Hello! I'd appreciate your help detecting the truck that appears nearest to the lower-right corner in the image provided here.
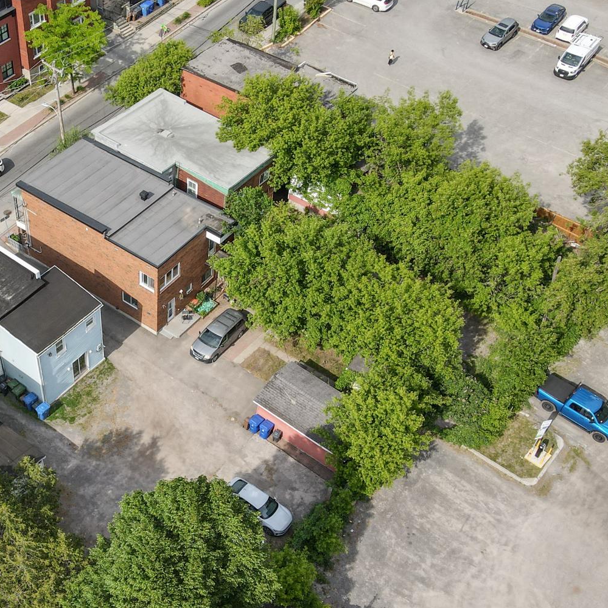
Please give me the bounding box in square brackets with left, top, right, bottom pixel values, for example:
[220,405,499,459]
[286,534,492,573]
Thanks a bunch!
[530,371,608,440]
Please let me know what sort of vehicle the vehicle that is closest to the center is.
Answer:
car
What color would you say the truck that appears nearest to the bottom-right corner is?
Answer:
blue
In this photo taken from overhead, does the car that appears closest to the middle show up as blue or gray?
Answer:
gray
